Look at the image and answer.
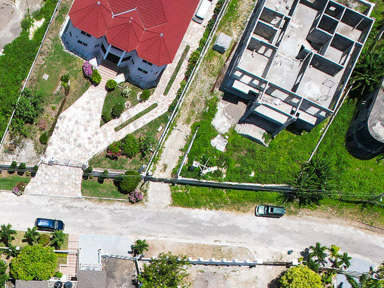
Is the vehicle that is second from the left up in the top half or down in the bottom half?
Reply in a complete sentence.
The vehicle that is second from the left sits in the top half of the picture.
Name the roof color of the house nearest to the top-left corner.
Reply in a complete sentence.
The roof over the house nearest to the top-left corner appears red.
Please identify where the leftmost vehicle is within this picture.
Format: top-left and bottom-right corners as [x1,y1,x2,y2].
[35,217,65,233]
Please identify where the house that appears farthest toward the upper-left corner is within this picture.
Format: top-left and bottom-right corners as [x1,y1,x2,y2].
[67,0,199,94]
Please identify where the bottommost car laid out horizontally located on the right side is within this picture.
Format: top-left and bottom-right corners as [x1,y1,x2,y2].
[254,203,286,219]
